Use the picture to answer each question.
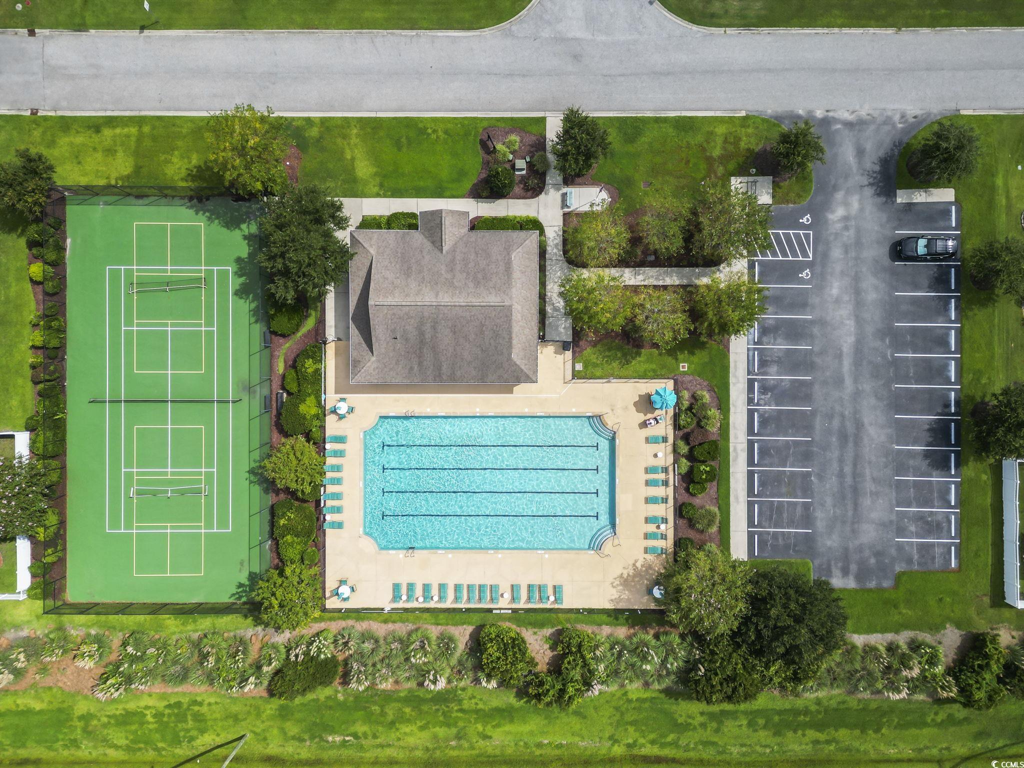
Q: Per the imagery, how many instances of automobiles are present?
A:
one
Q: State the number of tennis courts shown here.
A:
1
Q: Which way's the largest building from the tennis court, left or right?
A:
right of it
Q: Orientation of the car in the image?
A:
from left to right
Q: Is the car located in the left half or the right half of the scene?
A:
right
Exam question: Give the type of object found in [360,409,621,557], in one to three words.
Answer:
swimming pool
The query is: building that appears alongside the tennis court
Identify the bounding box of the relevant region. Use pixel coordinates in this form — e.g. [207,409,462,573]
[349,209,538,384]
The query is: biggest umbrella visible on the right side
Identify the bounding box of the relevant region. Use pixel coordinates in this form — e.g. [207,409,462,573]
[652,387,679,412]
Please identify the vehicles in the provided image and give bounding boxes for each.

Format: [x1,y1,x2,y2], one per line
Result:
[898,235,958,261]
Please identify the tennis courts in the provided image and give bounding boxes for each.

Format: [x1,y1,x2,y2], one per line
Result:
[66,195,271,603]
